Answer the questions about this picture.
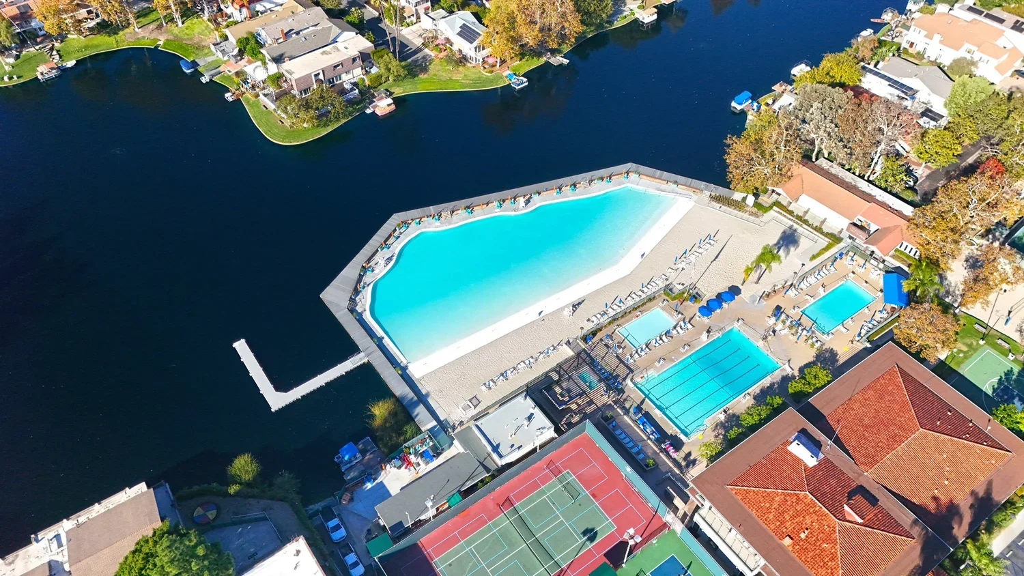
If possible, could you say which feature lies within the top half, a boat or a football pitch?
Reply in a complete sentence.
There is a boat within the top half.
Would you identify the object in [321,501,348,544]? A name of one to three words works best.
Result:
truck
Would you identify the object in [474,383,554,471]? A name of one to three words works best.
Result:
building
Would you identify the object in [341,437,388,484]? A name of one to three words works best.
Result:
pier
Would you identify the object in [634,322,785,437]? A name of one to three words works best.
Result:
swimming pool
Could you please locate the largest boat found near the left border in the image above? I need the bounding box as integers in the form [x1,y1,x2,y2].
[36,64,65,83]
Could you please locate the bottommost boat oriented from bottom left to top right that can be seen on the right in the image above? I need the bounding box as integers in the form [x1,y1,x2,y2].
[727,86,757,112]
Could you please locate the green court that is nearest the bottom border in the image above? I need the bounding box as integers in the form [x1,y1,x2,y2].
[625,528,715,576]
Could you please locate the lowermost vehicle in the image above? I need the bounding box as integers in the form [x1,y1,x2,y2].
[338,536,367,576]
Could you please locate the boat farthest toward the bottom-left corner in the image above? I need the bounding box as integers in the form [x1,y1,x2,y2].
[334,435,363,465]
